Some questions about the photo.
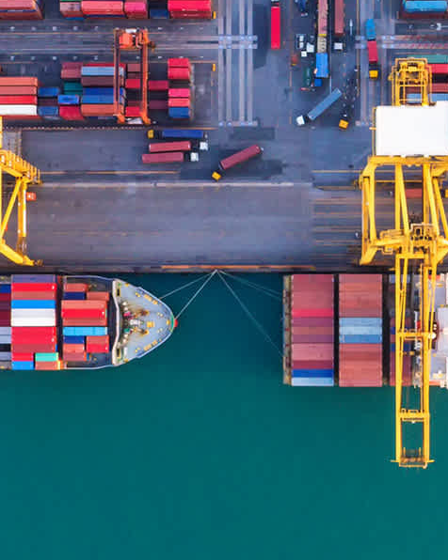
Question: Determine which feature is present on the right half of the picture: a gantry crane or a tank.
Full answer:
The one visible on the right half of the picture is a gantry crane.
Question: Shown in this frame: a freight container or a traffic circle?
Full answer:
The image shows a freight container.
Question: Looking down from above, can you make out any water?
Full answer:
Yes, the picture does contain water.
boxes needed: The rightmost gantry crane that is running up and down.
[349,55,448,469]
